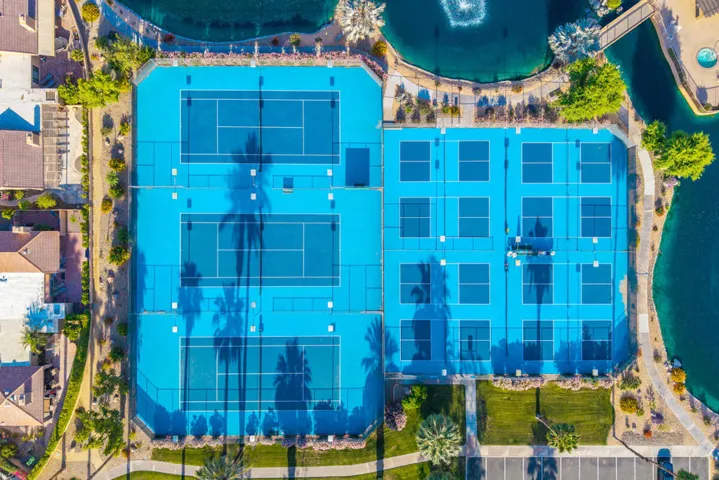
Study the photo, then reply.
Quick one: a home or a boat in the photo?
home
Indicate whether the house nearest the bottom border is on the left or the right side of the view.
left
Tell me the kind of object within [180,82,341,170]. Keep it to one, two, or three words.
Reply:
tennis court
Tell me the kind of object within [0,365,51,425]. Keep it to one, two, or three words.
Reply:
house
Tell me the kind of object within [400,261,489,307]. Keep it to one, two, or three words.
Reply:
sports court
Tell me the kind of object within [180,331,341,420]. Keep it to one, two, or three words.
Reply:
tennis court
